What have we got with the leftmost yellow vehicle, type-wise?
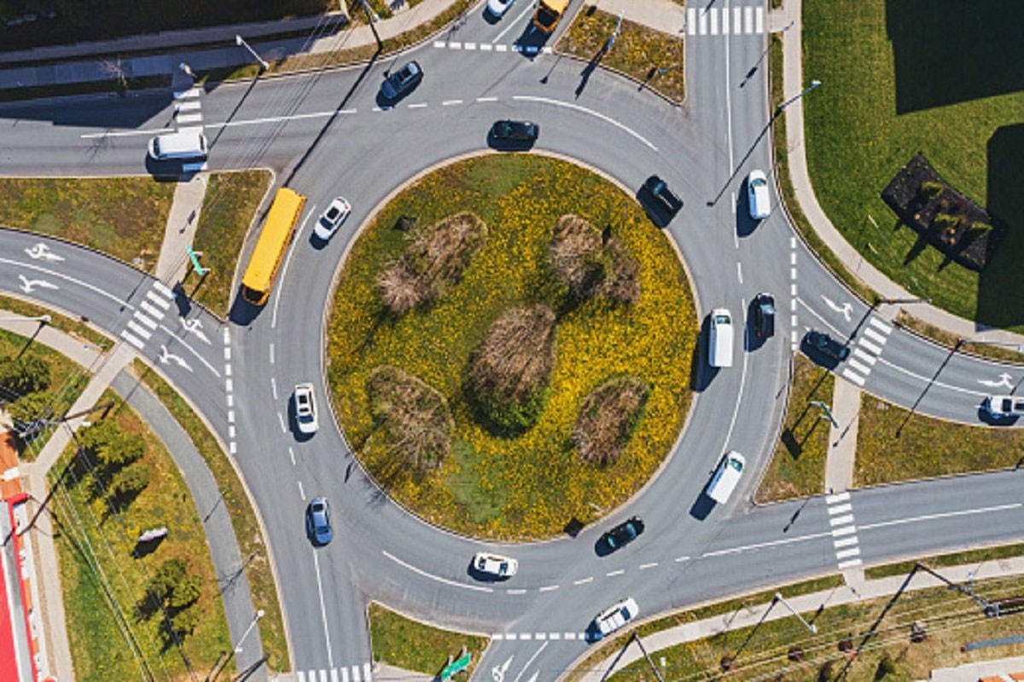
bus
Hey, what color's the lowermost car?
white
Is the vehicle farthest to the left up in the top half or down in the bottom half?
top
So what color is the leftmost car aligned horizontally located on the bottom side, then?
white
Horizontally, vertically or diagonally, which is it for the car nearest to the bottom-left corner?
vertically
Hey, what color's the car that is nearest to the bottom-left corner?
blue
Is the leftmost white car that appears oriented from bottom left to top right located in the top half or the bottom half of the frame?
top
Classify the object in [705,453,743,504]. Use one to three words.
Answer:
van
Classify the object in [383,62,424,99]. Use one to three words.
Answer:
car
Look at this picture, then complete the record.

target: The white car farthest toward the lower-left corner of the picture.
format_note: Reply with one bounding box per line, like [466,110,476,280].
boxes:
[295,385,319,431]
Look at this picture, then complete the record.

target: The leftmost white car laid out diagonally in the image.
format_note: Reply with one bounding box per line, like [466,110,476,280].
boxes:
[315,197,351,242]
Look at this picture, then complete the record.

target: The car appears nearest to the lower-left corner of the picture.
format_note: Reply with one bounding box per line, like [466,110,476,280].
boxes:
[310,498,333,544]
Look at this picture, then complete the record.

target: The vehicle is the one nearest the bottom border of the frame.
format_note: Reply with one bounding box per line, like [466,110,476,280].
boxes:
[595,597,639,632]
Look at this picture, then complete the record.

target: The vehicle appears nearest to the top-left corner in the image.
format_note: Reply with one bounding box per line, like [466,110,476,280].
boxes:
[152,135,212,159]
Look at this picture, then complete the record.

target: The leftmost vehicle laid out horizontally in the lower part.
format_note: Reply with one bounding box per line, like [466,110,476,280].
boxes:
[472,552,518,577]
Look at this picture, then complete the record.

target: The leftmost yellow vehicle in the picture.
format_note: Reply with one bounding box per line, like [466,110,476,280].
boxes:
[242,186,309,301]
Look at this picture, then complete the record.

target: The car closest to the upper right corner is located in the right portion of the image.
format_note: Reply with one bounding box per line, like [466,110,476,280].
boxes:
[744,171,768,221]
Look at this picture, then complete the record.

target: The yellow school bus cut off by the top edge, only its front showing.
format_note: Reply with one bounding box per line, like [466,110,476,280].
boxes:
[538,0,576,32]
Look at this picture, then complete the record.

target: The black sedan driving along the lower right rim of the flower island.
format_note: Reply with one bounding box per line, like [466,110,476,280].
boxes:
[598,517,643,551]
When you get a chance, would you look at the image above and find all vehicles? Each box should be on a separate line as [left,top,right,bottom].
[538,0,576,32]
[383,62,424,99]
[801,333,847,364]
[315,197,351,242]
[641,174,686,219]
[489,119,538,142]
[242,186,309,301]
[598,517,643,551]
[472,552,518,577]
[595,597,639,632]
[705,453,743,504]
[295,385,319,431]
[752,293,775,338]
[152,135,212,159]
[489,0,514,17]
[707,311,732,365]
[310,498,333,544]
[744,171,768,221]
